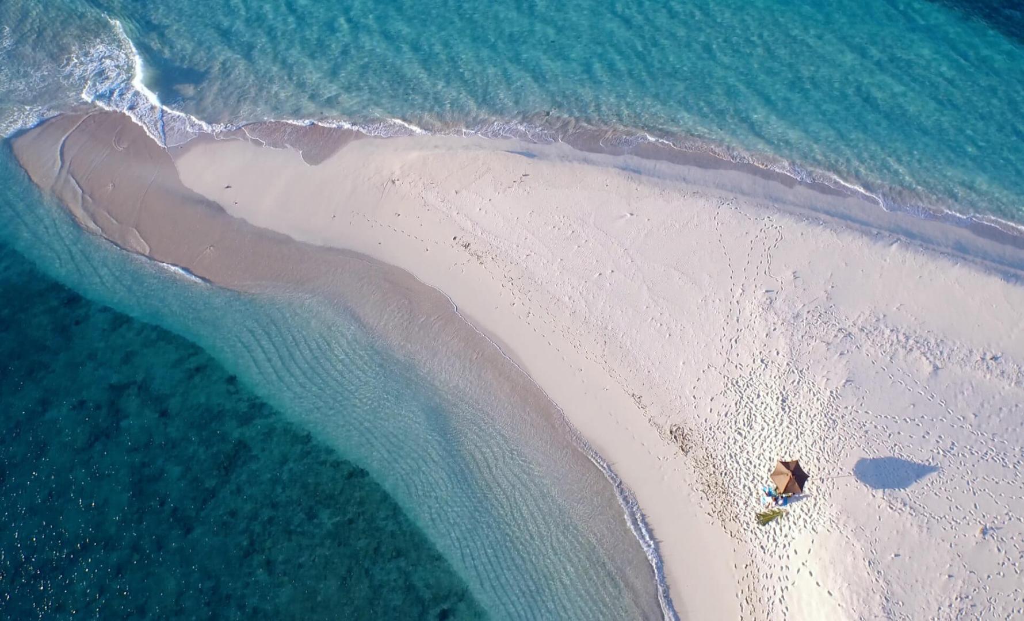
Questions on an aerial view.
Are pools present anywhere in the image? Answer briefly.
No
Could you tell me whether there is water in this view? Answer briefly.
Yes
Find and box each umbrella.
[771,460,810,495]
